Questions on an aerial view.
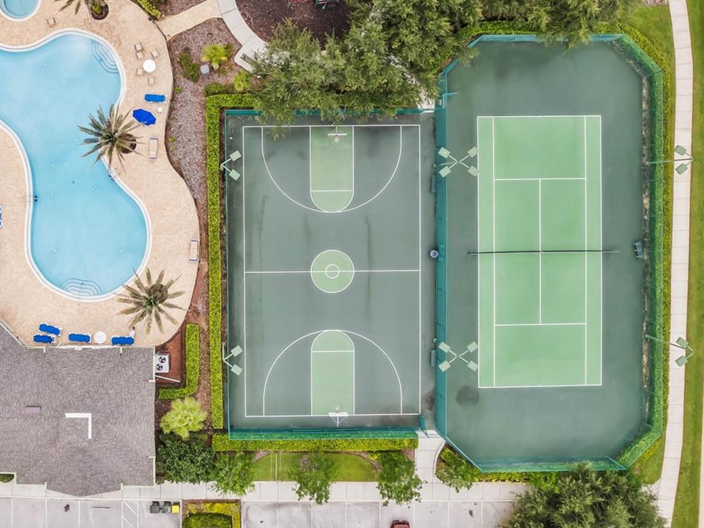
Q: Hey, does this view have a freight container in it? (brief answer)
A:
No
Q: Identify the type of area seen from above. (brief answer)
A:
sports ground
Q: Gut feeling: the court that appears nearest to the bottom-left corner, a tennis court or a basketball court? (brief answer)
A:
basketball court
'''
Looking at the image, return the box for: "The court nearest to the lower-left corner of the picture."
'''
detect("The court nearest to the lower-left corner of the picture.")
[224,113,434,430]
